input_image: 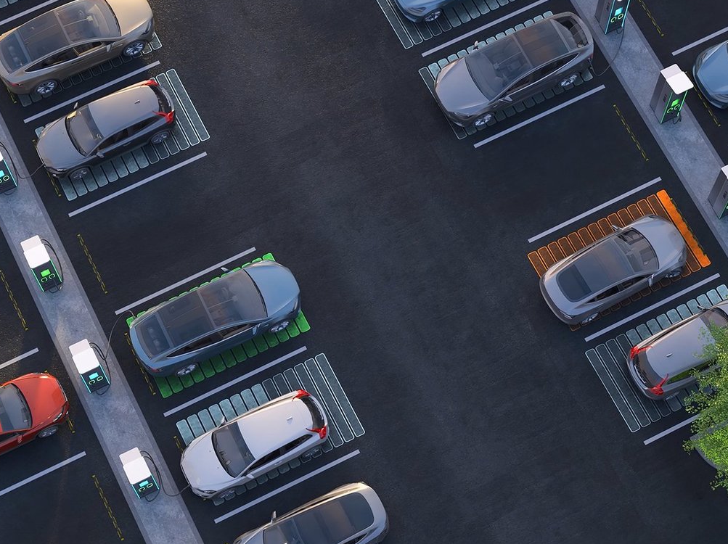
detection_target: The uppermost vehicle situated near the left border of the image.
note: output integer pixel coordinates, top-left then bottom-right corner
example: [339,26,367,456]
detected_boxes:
[0,0,155,93]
